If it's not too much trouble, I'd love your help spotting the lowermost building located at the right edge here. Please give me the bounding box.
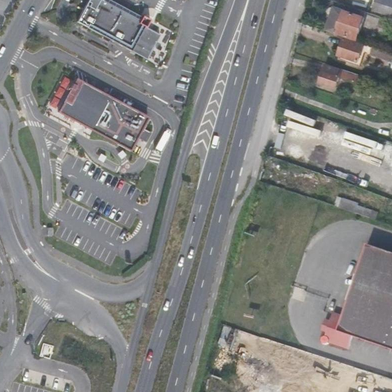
[320,244,392,350]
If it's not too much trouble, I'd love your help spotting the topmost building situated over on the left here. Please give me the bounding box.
[78,0,162,58]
